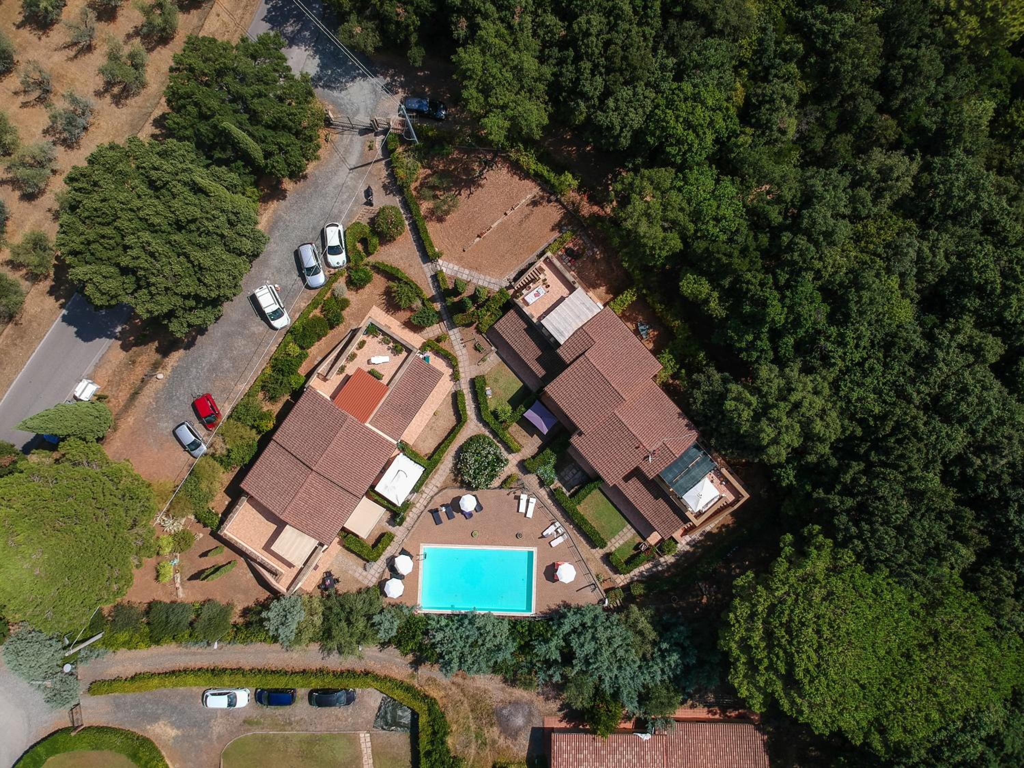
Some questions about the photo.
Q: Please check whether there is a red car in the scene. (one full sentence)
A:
Yes, there is a red car in the image.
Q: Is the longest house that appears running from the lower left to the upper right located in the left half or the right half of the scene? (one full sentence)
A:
The longest house that appears running from the lower left to the upper right is on the left side of the image.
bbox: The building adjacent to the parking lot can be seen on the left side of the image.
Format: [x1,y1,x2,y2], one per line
[219,316,444,594]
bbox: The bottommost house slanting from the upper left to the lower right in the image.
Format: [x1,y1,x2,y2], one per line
[493,250,752,540]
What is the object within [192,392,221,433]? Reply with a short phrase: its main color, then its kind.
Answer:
red car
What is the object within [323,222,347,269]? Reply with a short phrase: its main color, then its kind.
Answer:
white car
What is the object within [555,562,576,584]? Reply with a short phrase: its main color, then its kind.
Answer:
white umbrella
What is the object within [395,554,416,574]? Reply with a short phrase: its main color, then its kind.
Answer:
white umbrella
